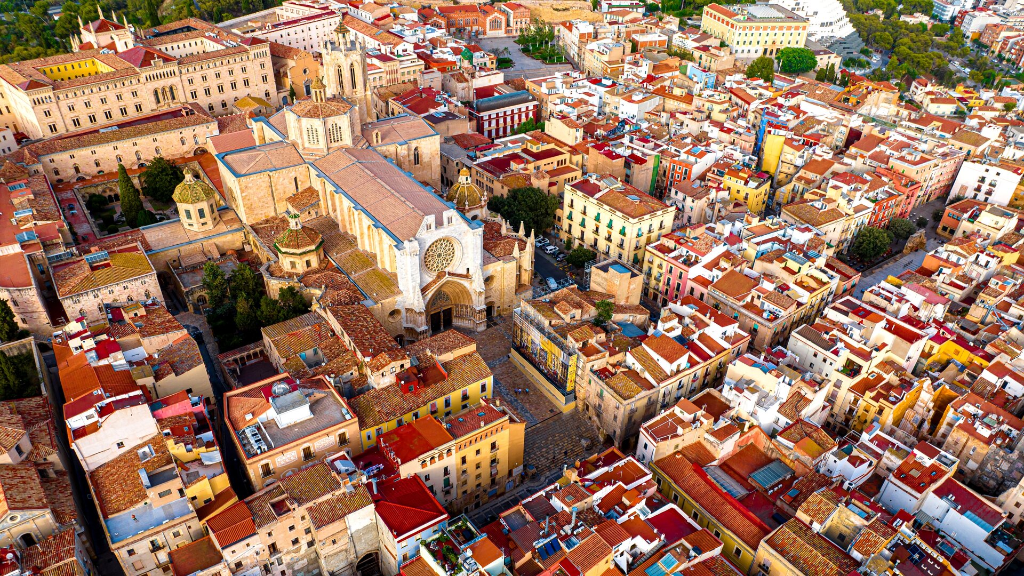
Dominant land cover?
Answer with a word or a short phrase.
buildings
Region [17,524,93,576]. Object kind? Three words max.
house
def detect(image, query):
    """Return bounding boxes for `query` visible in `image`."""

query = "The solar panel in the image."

[905,545,930,568]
